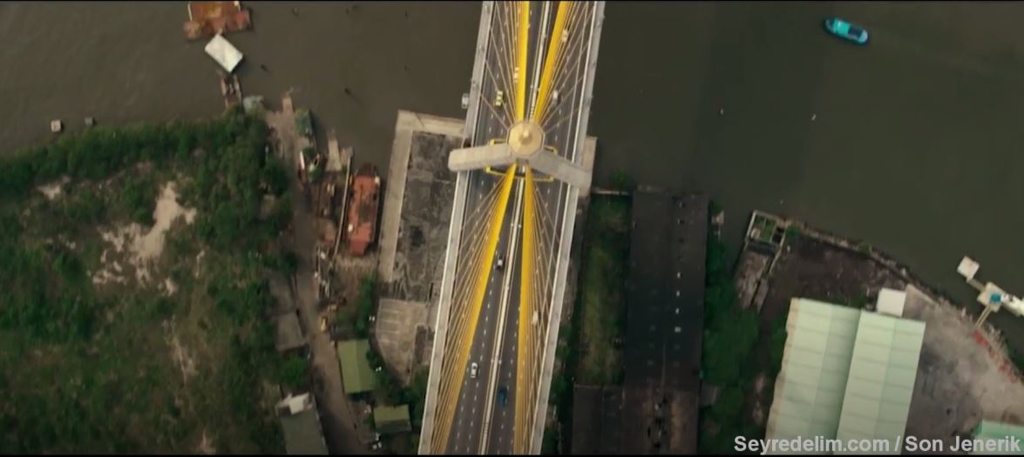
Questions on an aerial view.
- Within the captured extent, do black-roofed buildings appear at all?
Yes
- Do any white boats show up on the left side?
Yes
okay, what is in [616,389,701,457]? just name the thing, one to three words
building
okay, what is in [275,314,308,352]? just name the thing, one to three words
shed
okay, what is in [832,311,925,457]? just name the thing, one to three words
shed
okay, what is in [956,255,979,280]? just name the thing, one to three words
pier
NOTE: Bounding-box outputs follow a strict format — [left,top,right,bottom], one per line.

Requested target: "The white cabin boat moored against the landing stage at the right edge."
[999,293,1024,315]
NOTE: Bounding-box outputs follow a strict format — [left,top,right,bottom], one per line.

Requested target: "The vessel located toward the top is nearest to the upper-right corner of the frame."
[825,17,870,45]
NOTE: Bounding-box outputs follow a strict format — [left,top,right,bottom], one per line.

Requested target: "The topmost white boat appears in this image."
[206,36,244,71]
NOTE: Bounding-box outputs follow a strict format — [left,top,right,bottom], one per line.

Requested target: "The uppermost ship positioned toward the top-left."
[186,0,255,40]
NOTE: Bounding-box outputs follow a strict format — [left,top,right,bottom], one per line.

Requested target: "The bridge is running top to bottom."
[418,0,605,457]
